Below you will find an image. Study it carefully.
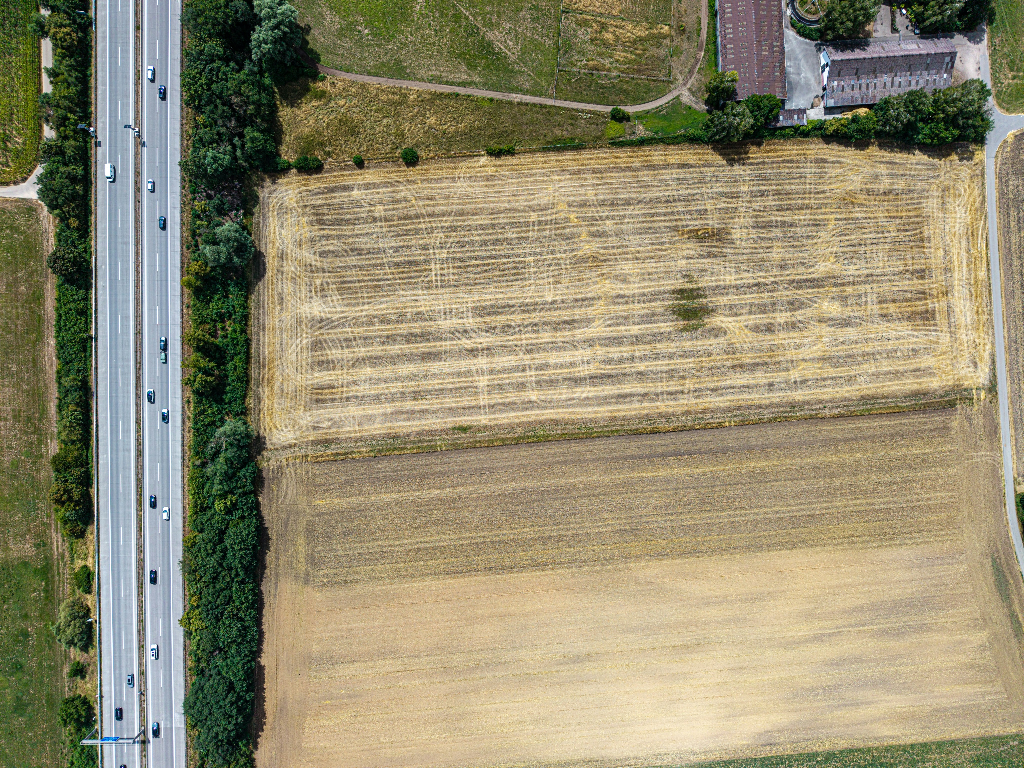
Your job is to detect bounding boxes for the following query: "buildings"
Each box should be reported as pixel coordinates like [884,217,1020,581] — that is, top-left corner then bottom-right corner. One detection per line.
[714,0,788,104]
[818,39,957,111]
[774,109,807,128]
